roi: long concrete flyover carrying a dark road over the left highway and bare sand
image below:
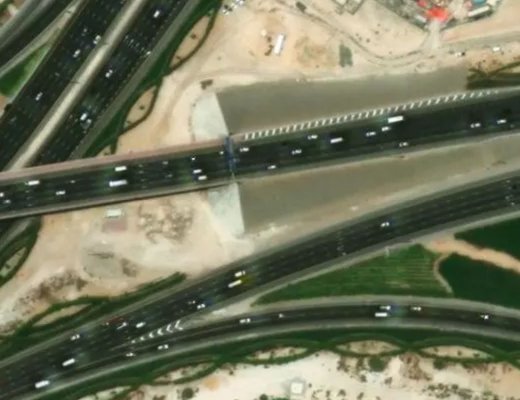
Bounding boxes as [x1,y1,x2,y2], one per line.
[0,135,231,219]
